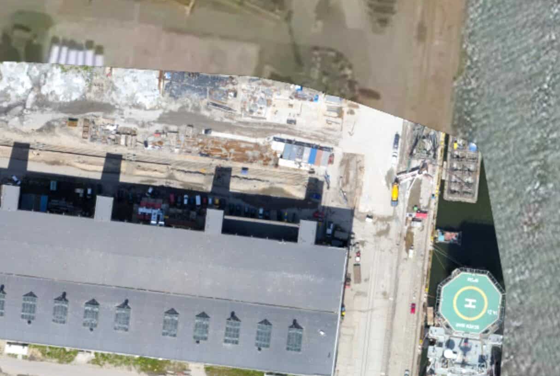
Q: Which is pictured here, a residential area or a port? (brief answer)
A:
port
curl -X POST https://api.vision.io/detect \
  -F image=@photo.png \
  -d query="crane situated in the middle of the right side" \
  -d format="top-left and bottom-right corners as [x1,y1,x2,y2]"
[392,162,430,206]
